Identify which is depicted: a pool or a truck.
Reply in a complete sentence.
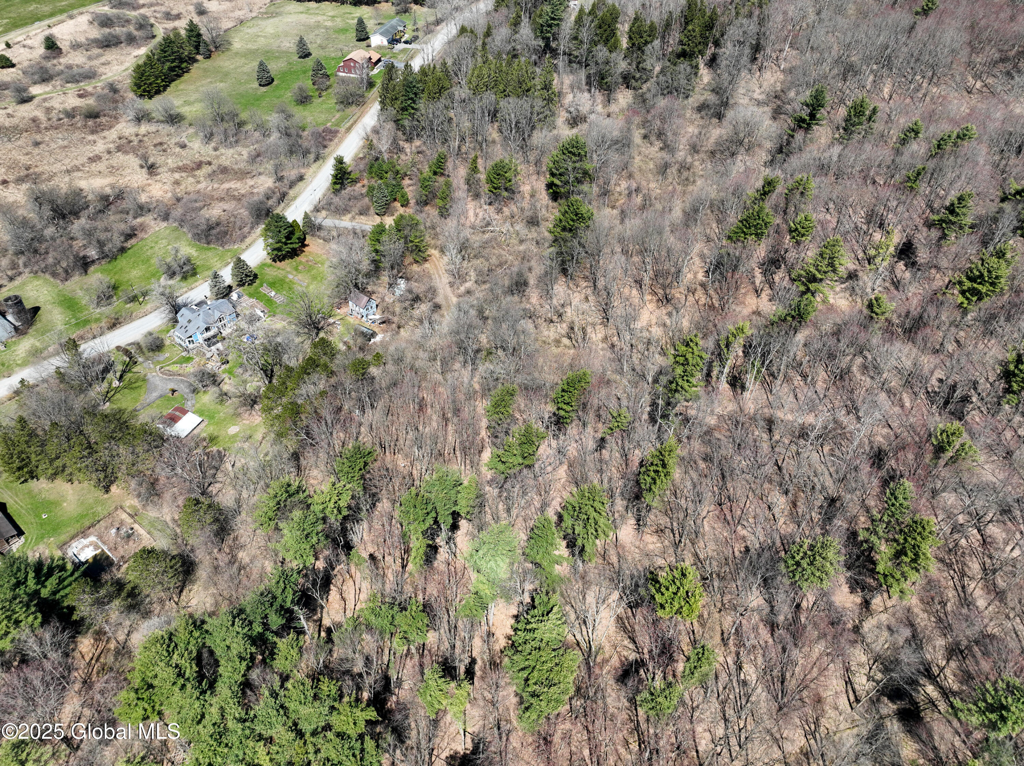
I can see a pool in this picture.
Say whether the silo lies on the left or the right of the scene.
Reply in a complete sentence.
The silo sits on the left side.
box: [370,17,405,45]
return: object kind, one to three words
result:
house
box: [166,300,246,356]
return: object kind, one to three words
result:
house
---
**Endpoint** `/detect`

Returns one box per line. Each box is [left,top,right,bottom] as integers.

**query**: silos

[0,293,33,332]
